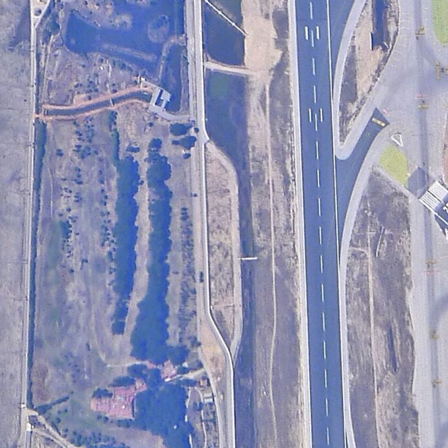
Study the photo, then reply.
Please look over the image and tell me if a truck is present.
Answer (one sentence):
No, no truck is visible in the view.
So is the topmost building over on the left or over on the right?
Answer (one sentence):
It is on the left.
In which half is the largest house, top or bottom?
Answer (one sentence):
You can find the largest house in the bottom half.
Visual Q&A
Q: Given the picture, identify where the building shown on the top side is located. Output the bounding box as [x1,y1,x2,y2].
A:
[142,78,171,111]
